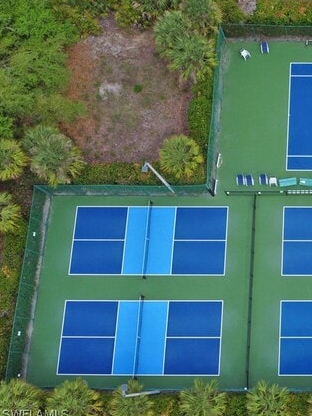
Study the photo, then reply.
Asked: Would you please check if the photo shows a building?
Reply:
No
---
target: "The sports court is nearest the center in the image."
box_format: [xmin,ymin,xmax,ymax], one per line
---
[69,207,228,275]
